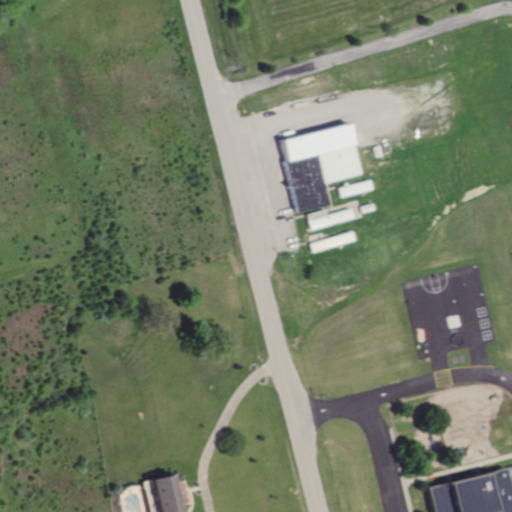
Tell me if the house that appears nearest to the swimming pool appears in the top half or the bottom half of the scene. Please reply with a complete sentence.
The bottom half of the photo is where the house that appears nearest to the swimming pool is.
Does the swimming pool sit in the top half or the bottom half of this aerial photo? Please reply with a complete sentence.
The swimming pool is in the bottom half of the image.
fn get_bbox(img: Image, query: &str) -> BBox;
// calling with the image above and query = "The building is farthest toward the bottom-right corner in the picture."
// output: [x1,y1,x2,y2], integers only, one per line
[431,469,512,512]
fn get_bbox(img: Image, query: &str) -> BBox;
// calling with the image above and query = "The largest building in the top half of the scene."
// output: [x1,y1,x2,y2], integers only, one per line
[280,123,364,214]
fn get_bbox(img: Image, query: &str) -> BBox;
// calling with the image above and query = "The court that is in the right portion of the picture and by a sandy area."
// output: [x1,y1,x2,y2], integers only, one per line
[403,266,494,372]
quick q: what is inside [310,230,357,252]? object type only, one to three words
house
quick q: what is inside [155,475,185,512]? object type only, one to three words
house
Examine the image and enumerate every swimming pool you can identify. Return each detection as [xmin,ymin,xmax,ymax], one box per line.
[120,484,145,512]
